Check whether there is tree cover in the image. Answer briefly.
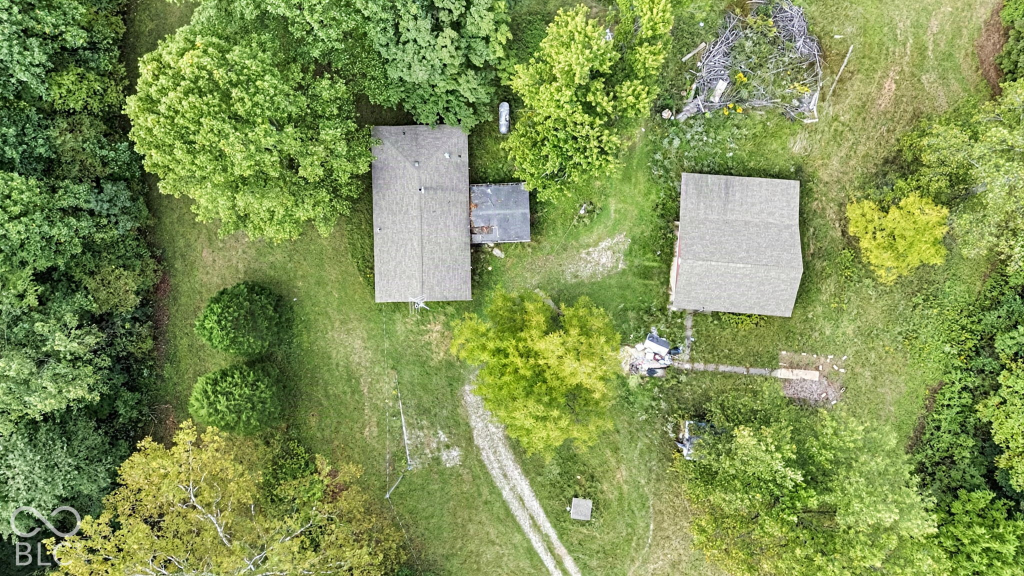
Yes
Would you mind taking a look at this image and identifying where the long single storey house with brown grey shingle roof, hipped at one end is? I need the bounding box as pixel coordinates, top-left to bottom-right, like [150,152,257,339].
[371,125,473,303]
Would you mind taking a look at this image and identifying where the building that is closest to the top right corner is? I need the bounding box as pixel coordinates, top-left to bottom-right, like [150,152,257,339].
[666,173,803,317]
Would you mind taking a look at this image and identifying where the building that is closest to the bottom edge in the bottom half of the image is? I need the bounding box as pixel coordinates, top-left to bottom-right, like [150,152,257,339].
[570,496,592,520]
